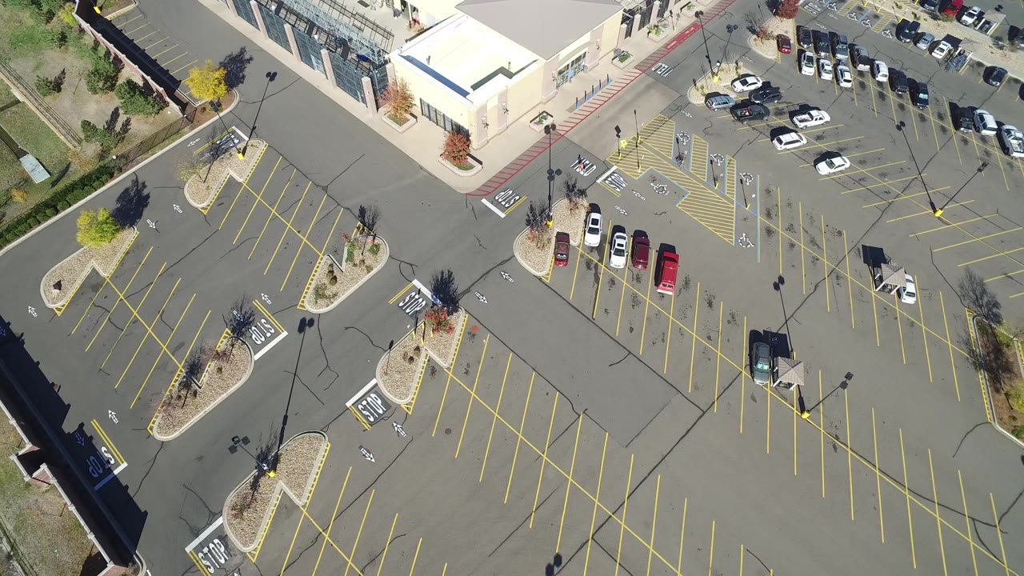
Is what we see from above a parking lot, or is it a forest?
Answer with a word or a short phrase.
parking lot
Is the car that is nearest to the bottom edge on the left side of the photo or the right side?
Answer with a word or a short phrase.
right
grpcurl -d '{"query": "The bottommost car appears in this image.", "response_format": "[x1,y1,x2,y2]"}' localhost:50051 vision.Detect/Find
[750,340,774,387]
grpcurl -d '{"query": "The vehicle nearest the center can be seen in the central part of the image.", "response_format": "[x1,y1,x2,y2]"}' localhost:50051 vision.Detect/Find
[552,232,571,268]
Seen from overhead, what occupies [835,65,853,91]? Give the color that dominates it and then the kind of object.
white car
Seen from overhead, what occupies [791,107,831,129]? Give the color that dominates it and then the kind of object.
white truck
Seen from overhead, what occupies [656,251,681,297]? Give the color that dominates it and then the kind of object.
red truck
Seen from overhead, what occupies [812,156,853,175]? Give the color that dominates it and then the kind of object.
white car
